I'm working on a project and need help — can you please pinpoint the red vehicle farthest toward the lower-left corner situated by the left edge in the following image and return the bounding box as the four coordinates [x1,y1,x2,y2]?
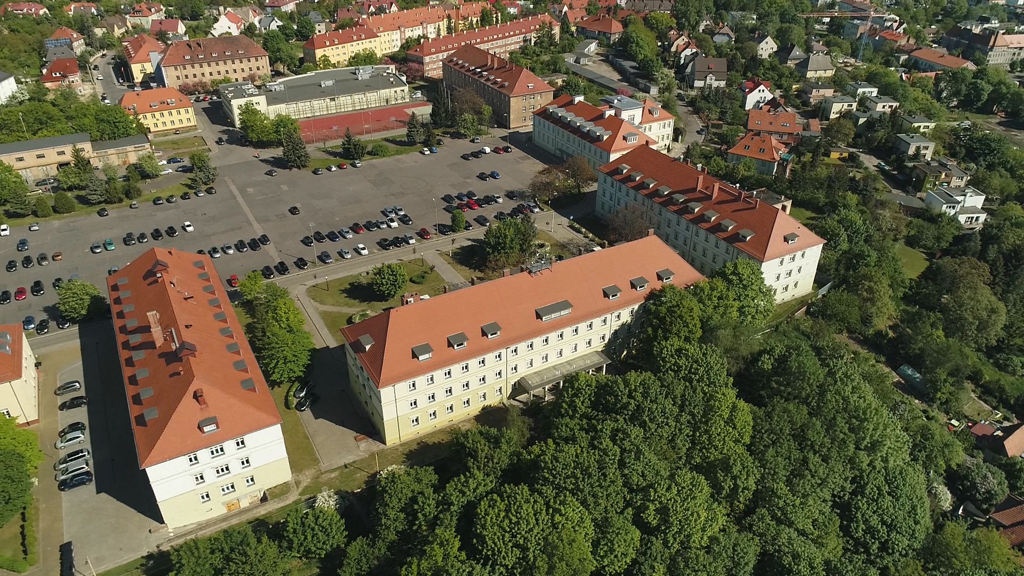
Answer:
[16,285,28,298]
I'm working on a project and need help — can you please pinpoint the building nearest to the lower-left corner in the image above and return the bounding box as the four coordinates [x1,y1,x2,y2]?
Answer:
[0,320,50,438]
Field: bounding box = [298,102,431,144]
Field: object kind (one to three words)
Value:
sports court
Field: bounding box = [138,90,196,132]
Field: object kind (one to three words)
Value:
house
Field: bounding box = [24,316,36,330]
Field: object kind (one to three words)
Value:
vehicle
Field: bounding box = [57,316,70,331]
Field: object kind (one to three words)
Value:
vehicle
